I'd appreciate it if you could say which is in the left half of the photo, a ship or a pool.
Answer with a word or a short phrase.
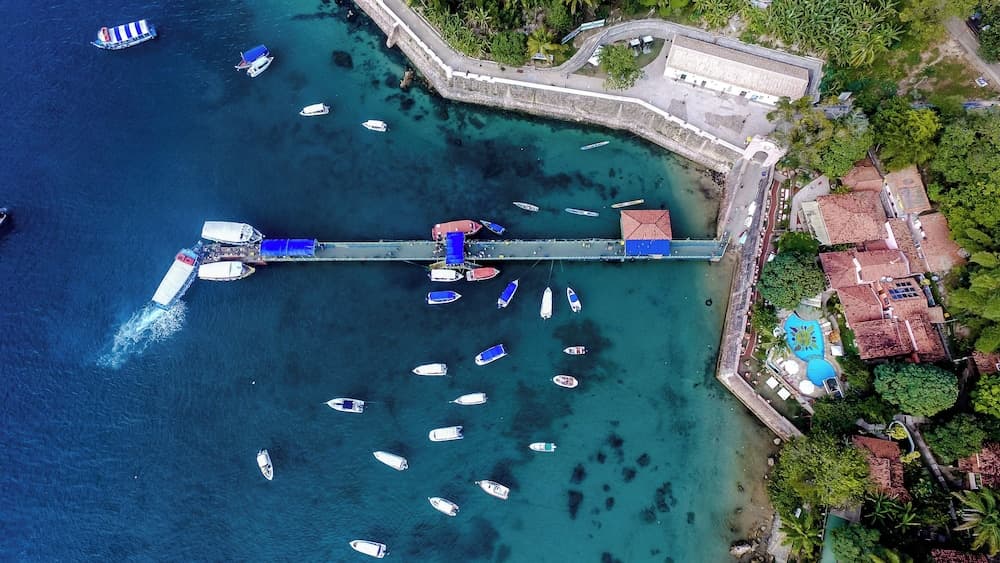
ship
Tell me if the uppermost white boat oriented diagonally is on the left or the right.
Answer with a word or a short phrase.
left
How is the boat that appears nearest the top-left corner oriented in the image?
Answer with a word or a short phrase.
from side to side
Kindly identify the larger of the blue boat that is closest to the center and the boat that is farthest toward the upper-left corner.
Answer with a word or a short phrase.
the boat that is farthest toward the upper-left corner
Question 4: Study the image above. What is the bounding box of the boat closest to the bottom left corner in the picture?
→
[256,446,271,480]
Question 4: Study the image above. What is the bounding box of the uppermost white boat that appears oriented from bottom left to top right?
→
[247,57,273,78]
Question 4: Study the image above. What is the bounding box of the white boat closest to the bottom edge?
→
[350,541,390,558]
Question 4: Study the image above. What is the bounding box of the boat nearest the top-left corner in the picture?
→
[85,21,160,48]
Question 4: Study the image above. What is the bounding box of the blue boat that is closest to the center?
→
[495,279,520,310]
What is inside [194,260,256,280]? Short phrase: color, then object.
white boat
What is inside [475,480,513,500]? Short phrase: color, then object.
white boat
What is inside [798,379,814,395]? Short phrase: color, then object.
white umbrella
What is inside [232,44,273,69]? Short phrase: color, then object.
blue boat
